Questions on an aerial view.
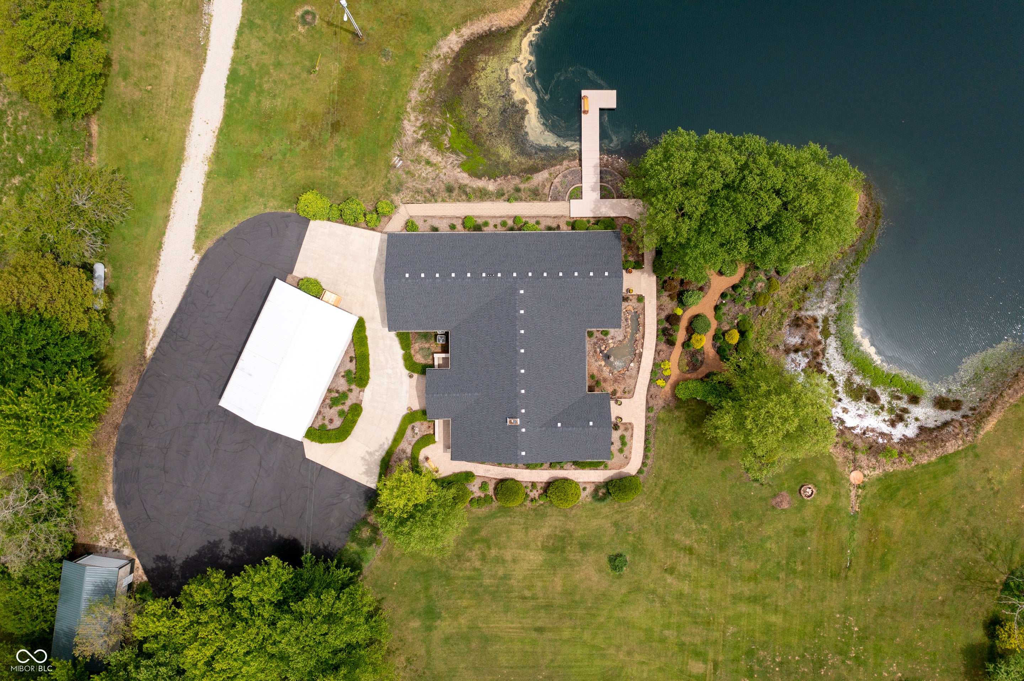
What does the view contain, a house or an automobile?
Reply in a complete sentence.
The one in the frame is a house.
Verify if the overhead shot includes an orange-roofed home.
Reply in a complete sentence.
No, there isn't any orange-roofed home down there.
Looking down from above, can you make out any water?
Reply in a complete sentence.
Yes, water shows up in the scene.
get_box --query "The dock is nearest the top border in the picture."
[581,90,616,199]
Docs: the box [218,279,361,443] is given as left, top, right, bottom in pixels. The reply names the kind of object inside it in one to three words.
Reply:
building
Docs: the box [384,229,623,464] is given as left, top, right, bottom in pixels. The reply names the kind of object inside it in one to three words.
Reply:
house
